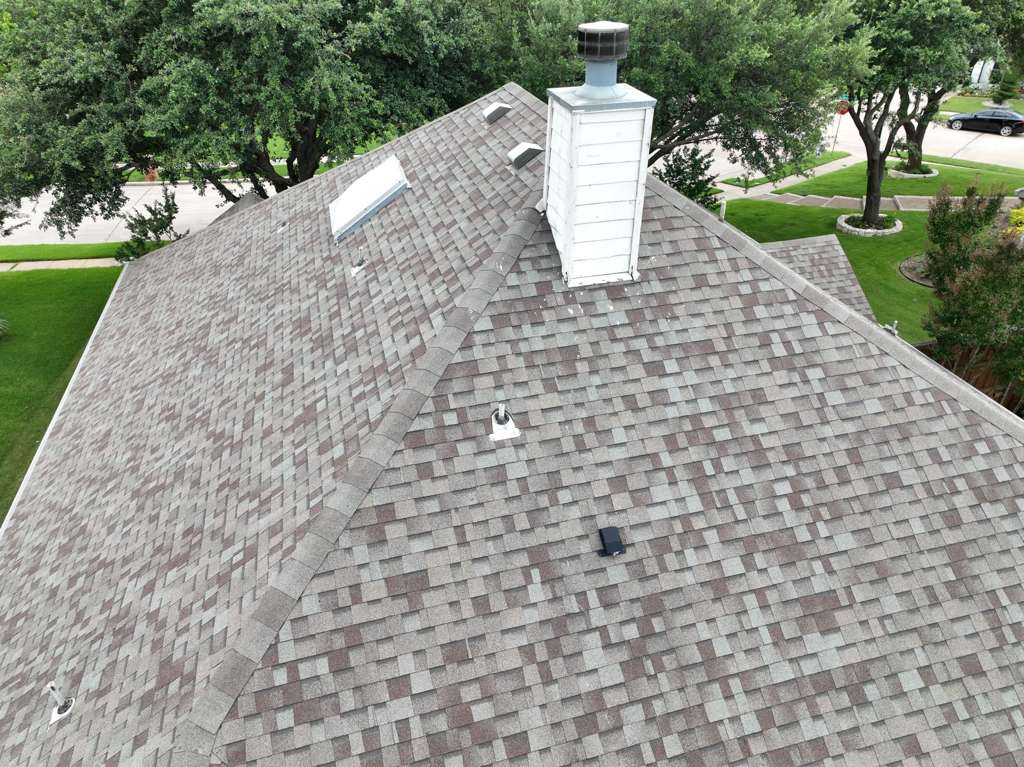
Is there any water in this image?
No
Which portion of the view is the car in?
top right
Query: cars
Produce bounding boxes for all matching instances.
[950,109,1024,137]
